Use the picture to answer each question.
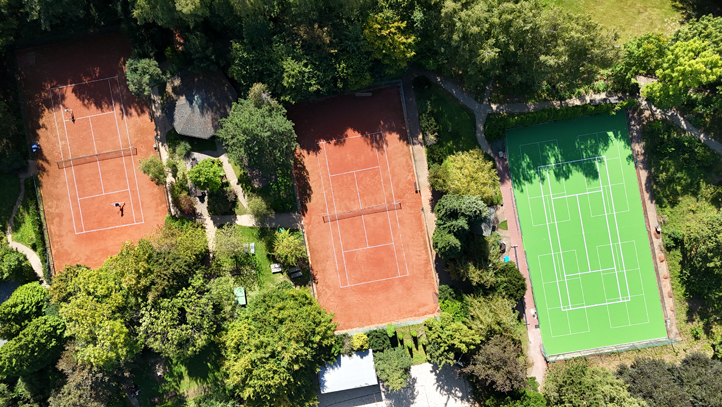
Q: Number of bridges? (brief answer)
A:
zero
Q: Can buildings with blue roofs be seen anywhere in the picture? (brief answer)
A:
No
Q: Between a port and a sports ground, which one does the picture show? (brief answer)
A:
sports ground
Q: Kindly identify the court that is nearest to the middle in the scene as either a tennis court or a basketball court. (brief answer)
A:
tennis court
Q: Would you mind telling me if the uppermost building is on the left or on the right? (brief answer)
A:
left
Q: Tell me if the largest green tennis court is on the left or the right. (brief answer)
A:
right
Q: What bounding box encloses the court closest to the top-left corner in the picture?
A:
[16,30,176,275]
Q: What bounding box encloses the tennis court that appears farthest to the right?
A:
[508,109,665,357]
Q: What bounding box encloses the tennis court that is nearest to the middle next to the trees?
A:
[280,84,441,333]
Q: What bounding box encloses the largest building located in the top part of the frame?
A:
[164,68,238,138]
